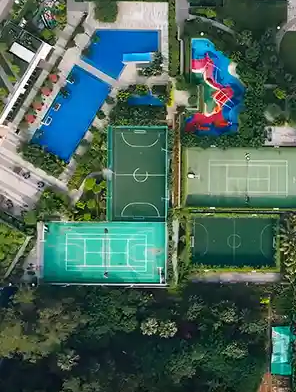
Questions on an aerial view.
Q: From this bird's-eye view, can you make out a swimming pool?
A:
Yes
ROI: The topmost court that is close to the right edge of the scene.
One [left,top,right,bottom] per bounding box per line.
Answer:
[186,147,296,207]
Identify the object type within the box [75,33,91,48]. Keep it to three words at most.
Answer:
gazebo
